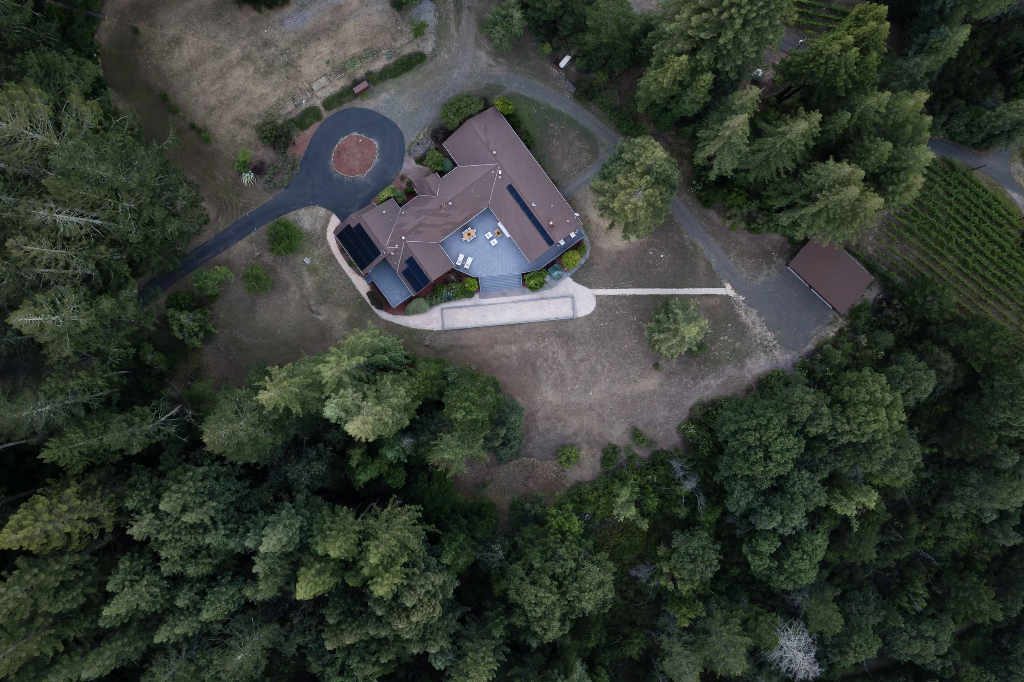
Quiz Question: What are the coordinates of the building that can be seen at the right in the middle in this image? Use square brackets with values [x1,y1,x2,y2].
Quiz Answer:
[785,241,874,325]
